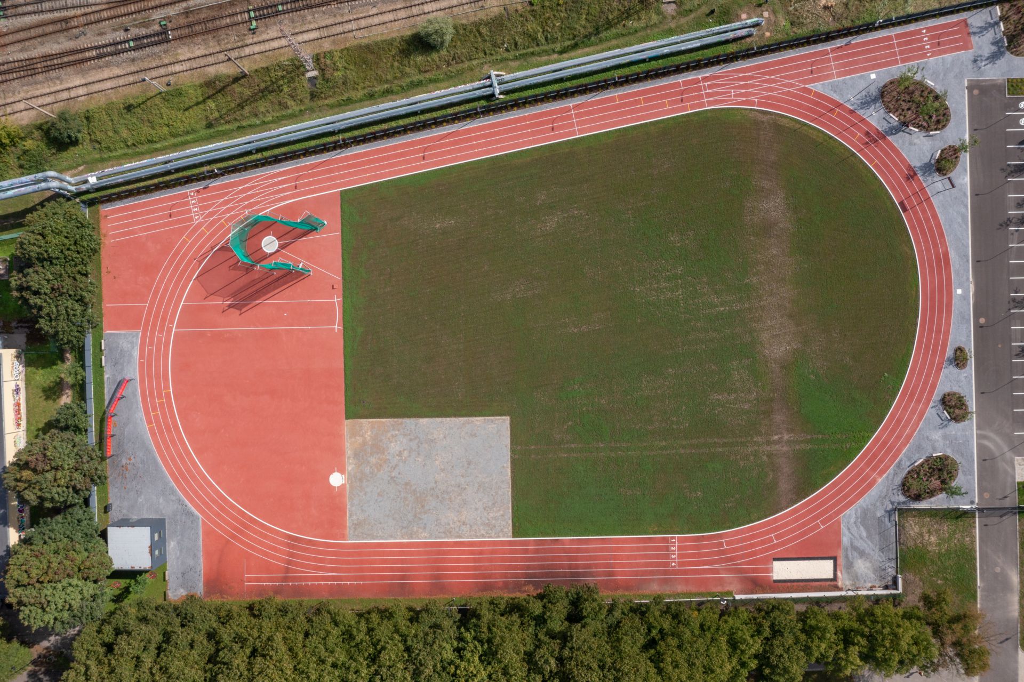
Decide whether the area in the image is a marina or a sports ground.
sports ground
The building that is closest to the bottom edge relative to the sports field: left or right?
on its left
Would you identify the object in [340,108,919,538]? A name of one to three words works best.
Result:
sports field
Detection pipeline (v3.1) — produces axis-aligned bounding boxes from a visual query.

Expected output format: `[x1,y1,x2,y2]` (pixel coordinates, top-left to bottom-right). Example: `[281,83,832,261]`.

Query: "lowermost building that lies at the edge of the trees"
[103,518,167,574]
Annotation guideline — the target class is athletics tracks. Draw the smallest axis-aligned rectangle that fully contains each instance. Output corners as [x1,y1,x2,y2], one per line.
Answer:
[101,18,973,600]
